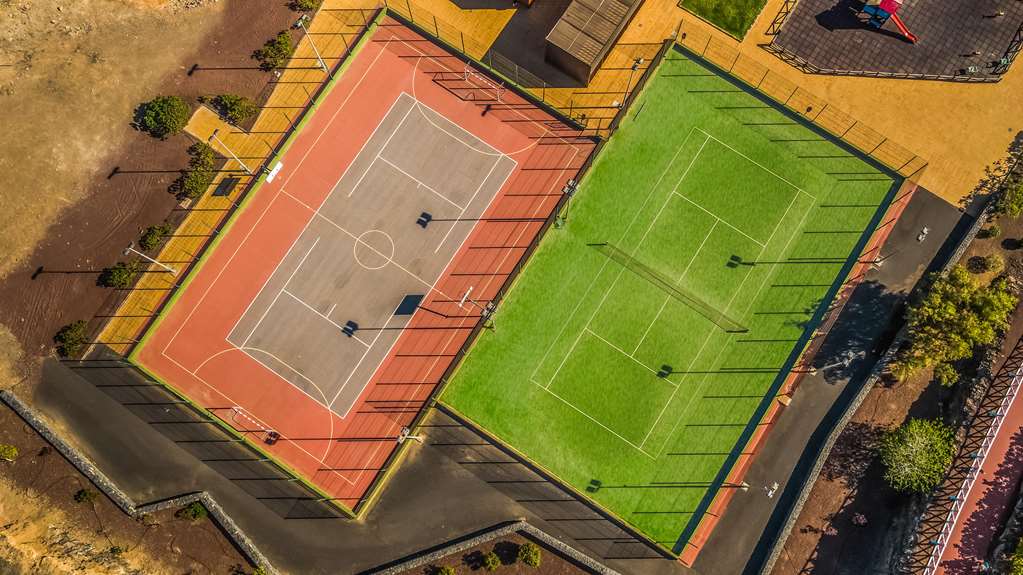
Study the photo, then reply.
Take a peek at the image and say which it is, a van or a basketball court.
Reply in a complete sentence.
Looking from above, you can make out a basketball court.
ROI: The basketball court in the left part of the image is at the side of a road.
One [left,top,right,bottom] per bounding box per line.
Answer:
[126,7,603,519]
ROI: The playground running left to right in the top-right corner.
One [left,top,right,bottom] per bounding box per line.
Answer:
[771,0,1023,79]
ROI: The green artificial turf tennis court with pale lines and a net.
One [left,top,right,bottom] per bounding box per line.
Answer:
[358,39,910,559]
